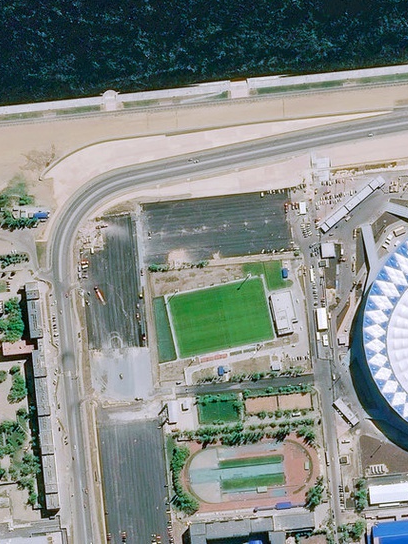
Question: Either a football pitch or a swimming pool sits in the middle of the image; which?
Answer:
football pitch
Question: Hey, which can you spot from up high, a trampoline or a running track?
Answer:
running track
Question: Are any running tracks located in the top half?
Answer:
No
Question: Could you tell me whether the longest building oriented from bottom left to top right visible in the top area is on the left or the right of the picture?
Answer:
right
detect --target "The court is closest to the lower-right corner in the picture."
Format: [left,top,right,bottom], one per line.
[279,392,312,411]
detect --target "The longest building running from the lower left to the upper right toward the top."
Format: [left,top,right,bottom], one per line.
[321,177,384,230]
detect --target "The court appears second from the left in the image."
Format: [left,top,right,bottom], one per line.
[245,396,278,415]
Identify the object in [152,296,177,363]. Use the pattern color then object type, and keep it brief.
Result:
green sports field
